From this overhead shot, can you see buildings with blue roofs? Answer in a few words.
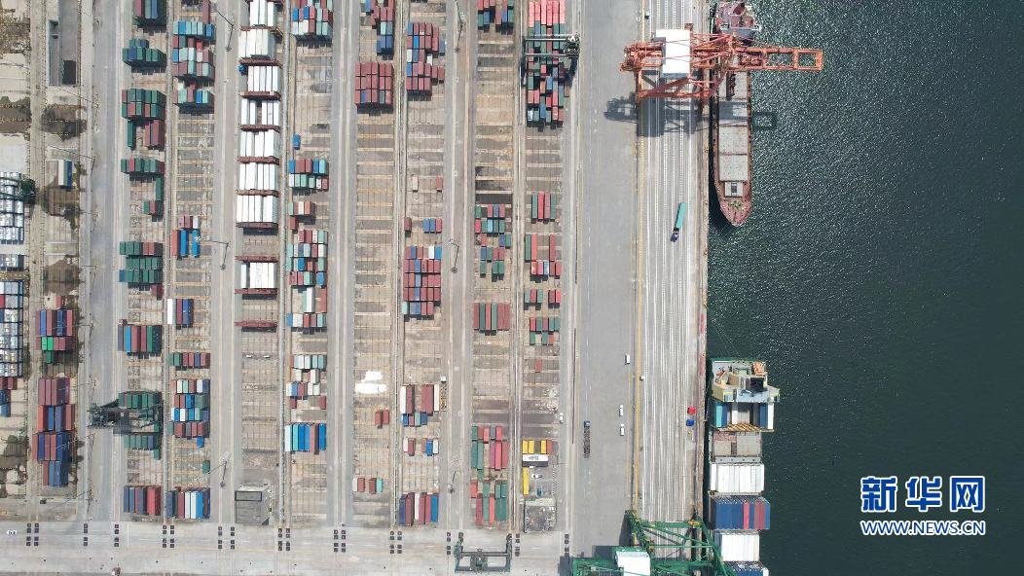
No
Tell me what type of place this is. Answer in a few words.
port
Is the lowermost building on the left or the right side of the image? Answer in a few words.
left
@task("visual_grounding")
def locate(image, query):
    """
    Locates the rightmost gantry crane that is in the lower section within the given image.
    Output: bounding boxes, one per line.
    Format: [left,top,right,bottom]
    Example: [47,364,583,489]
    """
[572,506,751,576]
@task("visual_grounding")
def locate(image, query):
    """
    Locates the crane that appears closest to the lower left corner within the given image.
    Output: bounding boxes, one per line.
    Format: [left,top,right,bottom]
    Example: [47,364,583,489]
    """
[87,398,169,431]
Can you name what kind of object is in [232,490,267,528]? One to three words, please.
building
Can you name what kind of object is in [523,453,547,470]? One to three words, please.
building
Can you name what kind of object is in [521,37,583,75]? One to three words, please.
container crane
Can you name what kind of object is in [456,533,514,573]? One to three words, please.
container crane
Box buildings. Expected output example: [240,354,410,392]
[232,490,267,528]
[57,0,80,85]
[523,453,547,470]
